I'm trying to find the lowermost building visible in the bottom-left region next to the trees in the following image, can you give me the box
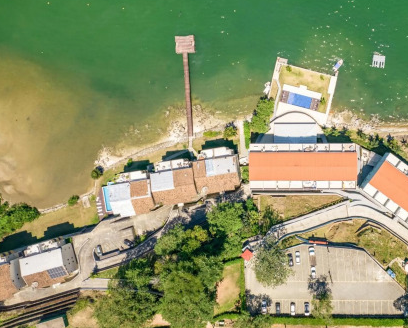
[36,310,69,328]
